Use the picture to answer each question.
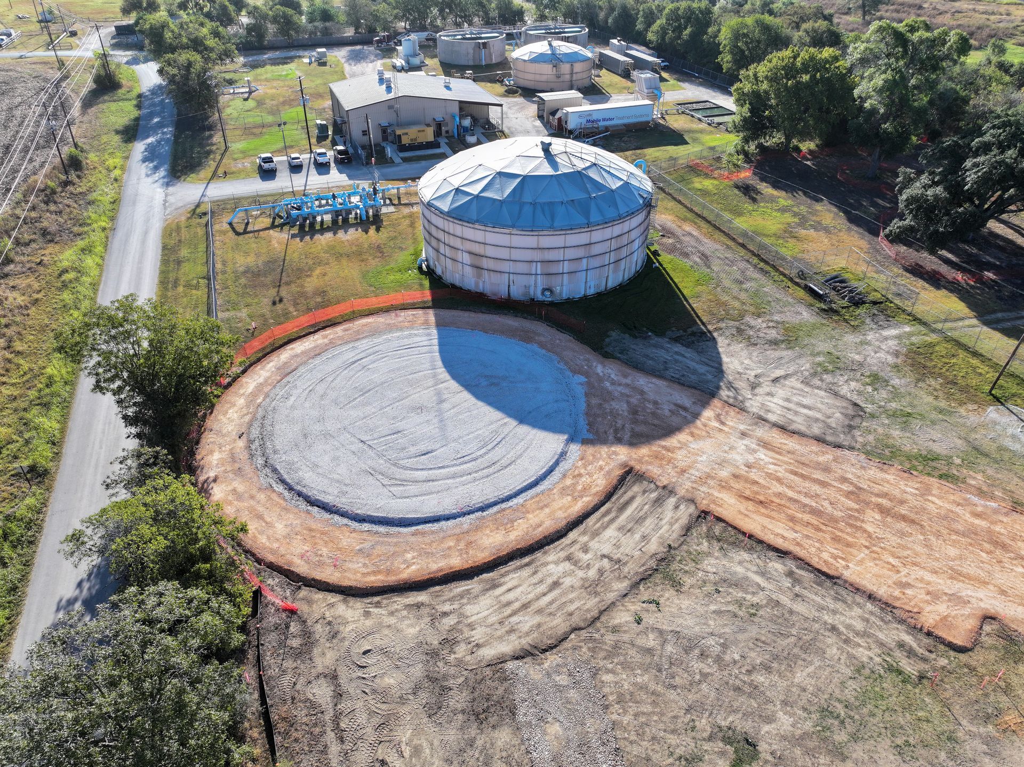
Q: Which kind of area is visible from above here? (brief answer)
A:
industrial area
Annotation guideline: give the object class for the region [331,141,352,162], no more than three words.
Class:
truck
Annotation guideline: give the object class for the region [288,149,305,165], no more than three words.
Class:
car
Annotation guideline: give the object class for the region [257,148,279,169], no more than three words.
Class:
truck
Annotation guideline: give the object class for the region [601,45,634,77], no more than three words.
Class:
trailer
